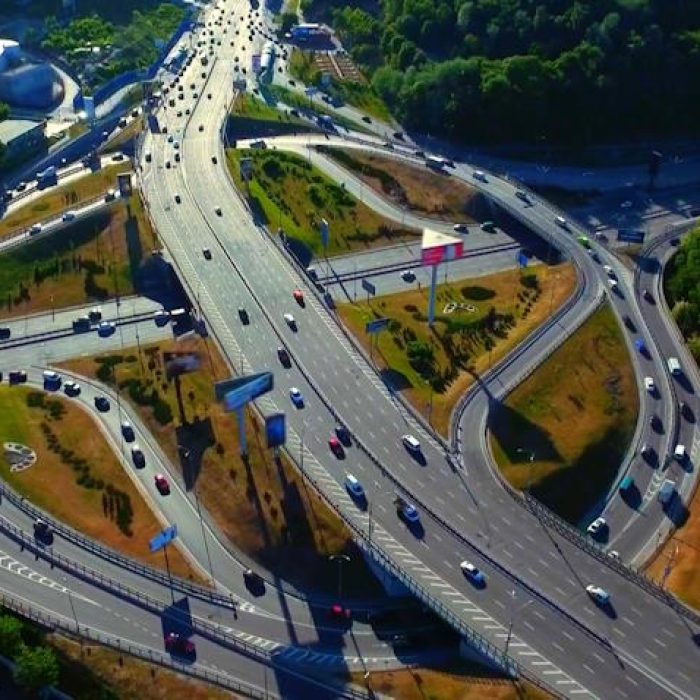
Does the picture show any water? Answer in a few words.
No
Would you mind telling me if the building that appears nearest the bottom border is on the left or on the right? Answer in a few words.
left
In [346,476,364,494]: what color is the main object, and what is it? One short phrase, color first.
blue car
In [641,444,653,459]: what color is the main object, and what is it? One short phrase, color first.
black vehicle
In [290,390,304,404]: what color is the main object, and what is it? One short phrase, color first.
blue vehicle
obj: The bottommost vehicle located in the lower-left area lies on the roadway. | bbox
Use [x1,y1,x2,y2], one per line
[163,632,193,653]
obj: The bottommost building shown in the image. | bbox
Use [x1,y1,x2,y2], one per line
[0,116,50,170]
